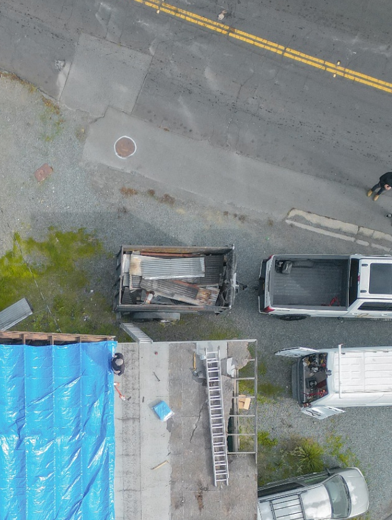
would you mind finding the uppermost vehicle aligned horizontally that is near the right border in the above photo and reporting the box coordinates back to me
[249,254,392,322]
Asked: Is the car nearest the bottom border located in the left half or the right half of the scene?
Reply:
right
